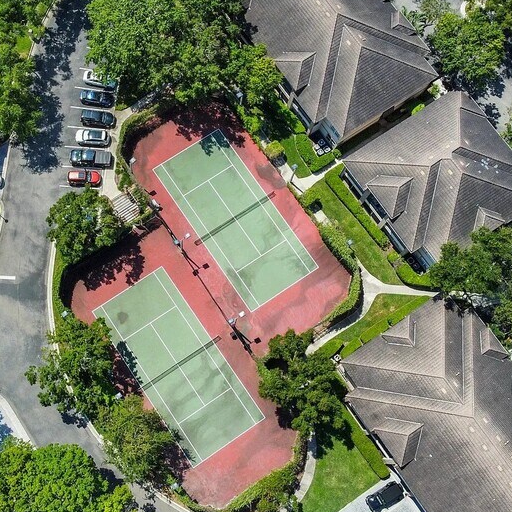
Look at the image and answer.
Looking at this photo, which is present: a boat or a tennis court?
tennis court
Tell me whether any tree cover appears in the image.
Yes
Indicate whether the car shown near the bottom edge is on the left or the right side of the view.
right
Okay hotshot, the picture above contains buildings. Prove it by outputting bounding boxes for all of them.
[213,0,438,150]
[342,91,512,269]
[338,296,512,512]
